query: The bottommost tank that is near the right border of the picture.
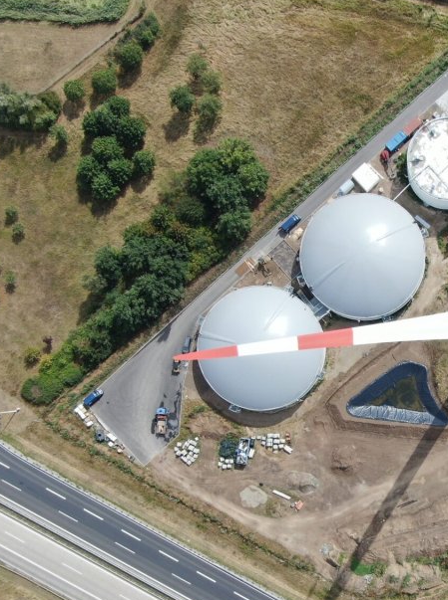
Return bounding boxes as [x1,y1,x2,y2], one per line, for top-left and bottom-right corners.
[297,192,430,325]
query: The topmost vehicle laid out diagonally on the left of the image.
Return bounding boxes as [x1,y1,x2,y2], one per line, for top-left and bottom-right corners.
[82,389,103,406]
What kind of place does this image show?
industrial area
